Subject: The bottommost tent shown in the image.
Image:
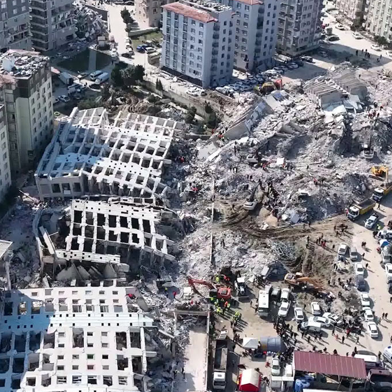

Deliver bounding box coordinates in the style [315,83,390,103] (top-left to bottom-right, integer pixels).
[238,366,260,392]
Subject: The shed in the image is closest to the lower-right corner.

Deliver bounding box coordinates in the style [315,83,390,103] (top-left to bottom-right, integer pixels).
[293,350,367,392]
